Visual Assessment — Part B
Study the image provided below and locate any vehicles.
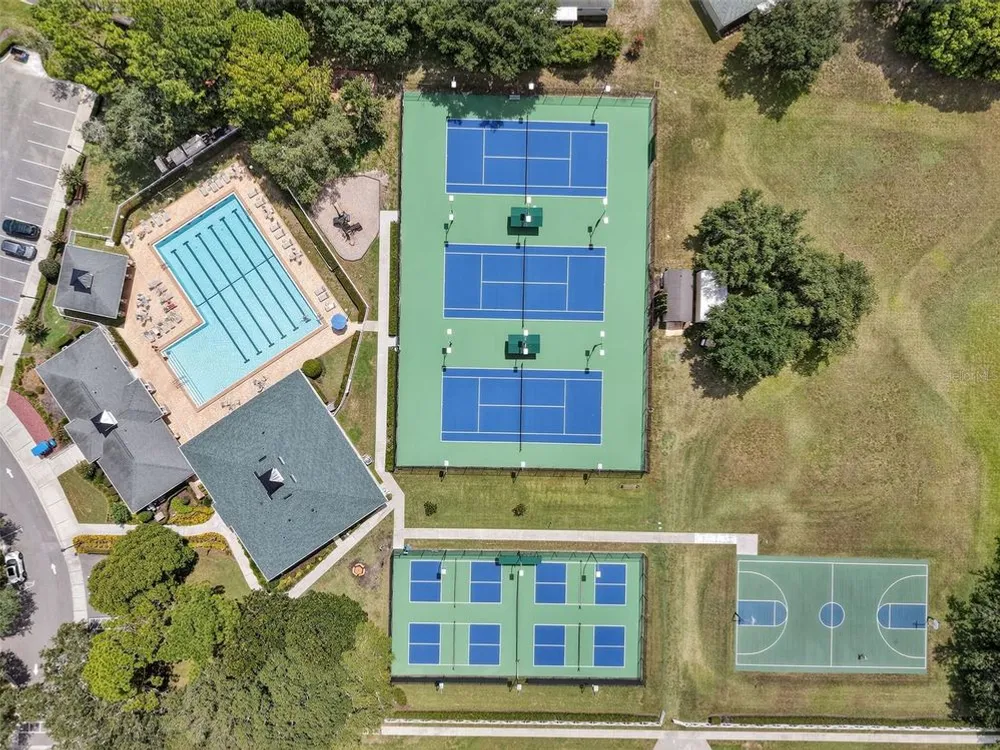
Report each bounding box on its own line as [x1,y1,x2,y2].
[4,552,25,585]
[0,240,36,260]
[4,220,39,240]
[25,438,58,460]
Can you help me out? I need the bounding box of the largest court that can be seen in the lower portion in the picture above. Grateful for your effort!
[735,554,929,677]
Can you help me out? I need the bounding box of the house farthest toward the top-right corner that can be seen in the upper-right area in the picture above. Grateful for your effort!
[697,0,774,35]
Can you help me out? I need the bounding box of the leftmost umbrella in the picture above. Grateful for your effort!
[331,313,348,329]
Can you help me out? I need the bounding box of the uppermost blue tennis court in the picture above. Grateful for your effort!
[445,111,608,202]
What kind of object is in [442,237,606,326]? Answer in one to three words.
tennis court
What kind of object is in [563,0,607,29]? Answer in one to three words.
house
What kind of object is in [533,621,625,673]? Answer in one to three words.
sports court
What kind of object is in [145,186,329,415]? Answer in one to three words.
swimming pool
